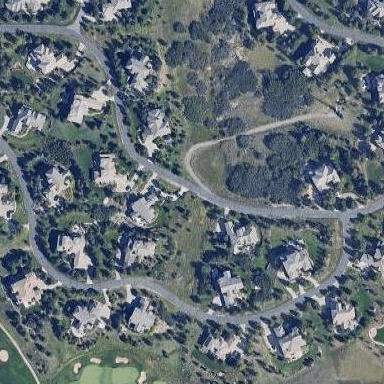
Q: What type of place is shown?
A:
residential area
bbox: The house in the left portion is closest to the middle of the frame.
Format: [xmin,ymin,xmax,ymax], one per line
[127,189,162,223]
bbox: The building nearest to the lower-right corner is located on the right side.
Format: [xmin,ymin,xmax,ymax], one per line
[331,302,360,332]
